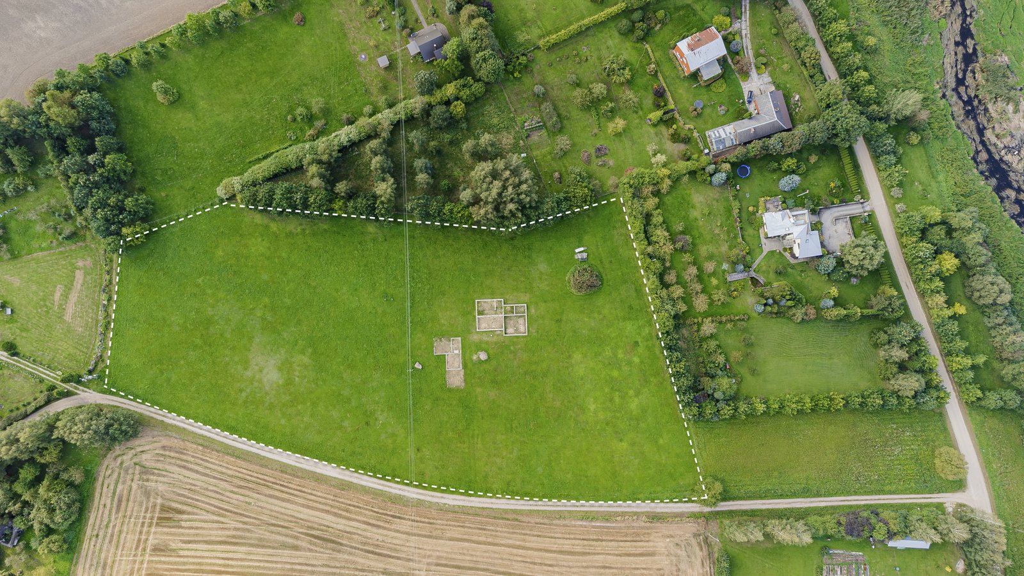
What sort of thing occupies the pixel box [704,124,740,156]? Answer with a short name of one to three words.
greenhouse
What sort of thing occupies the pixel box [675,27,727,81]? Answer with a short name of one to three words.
house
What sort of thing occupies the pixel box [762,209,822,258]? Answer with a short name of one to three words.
house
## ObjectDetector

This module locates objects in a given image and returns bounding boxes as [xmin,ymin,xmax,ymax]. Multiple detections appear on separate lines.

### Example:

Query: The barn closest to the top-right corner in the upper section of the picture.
[732,91,792,144]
